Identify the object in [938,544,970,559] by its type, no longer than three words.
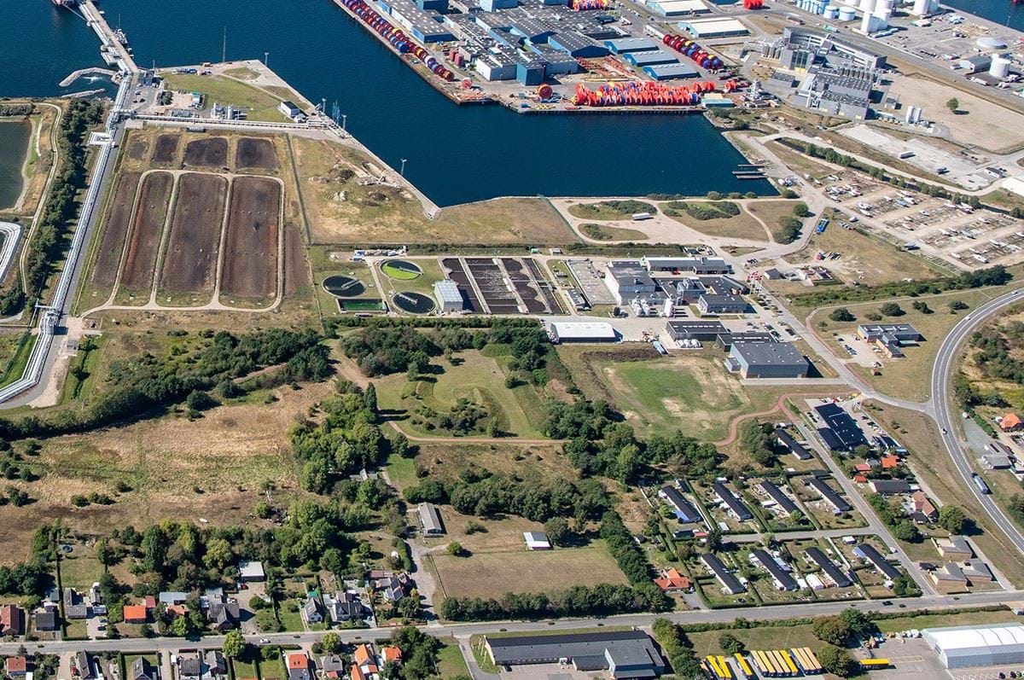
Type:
house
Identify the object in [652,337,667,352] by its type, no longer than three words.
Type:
vehicle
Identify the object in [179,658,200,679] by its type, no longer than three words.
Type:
house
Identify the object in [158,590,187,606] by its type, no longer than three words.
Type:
building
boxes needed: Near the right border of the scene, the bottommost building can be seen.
[929,626,1024,669]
